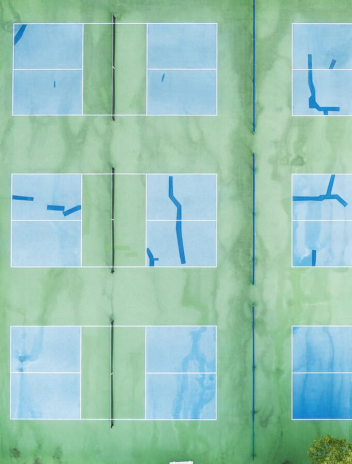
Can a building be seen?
No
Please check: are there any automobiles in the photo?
No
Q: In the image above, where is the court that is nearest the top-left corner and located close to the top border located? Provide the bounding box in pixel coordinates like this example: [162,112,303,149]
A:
[12,23,217,116]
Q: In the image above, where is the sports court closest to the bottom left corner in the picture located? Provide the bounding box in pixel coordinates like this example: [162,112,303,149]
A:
[10,326,216,421]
